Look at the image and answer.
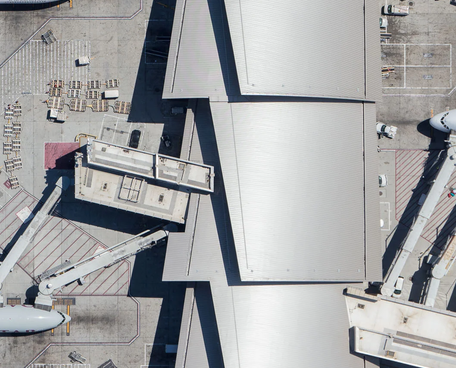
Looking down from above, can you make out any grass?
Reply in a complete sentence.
No, grass can't be seen anywhere here.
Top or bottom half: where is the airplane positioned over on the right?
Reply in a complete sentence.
Seen from above, the airplane positioned over on the right lies in the top half of the view.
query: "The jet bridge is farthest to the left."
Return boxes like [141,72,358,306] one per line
[0,174,75,302]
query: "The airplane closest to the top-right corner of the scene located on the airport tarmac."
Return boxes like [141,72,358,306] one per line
[430,109,456,132]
